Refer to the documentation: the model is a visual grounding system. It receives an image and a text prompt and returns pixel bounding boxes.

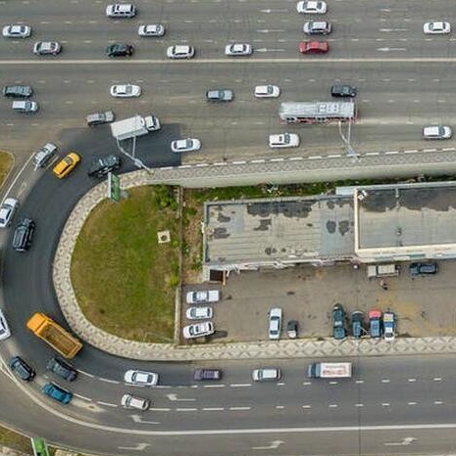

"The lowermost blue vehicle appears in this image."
[42,382,75,405]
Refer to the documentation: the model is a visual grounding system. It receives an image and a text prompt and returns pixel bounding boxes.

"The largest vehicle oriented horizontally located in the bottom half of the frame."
[309,363,353,379]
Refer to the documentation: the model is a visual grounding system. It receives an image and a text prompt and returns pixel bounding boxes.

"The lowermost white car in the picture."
[121,394,153,410]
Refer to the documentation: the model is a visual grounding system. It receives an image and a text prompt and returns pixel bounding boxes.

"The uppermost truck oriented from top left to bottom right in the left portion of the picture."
[28,314,80,357]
